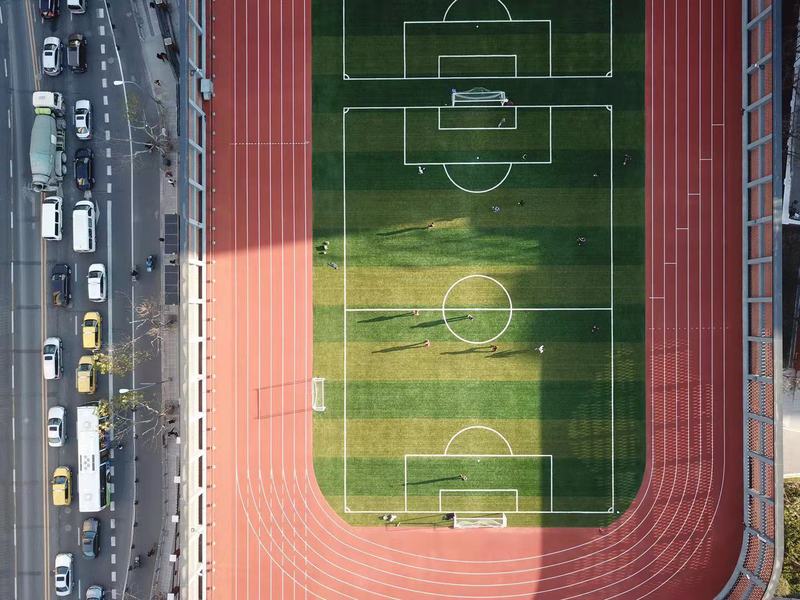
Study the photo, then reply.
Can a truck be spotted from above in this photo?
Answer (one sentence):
Yes, a truck can be made out from above.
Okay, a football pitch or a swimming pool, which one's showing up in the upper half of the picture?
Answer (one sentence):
It is a football pitch that can be seen in the upper half of the picture.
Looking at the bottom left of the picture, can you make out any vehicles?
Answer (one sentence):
Yes, a vehicle is visible at the bottom left of the picture.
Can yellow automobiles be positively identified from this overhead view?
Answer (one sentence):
Yes, a yellow automobile is visible in the scene.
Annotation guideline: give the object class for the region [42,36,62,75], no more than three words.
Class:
car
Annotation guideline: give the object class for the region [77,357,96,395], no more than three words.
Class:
car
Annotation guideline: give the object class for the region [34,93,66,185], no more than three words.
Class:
truck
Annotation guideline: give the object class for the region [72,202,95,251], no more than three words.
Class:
vehicle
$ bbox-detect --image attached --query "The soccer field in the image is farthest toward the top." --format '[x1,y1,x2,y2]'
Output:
[312,0,646,91]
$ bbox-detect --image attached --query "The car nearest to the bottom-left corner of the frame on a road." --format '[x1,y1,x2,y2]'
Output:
[53,554,73,596]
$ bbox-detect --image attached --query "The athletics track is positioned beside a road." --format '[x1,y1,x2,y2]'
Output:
[206,0,742,600]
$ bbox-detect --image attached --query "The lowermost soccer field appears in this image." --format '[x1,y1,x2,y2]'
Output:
[312,91,647,527]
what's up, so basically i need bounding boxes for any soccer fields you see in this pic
[312,0,646,91]
[312,91,647,527]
